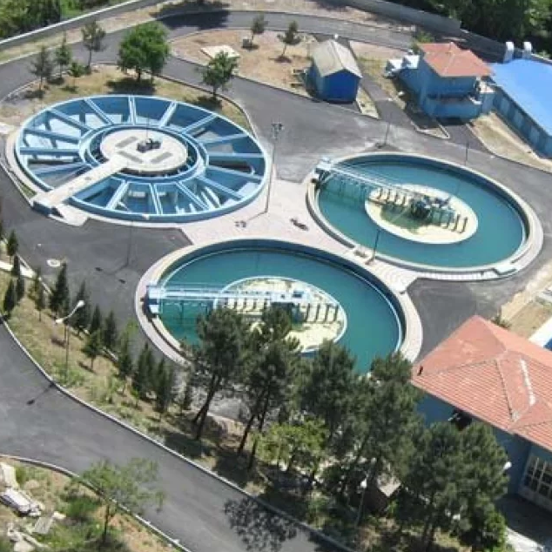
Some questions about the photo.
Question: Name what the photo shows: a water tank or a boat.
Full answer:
Visible in the photo is a water tank.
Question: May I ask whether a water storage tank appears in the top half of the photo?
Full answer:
Yes, I can see a water storage tank in the top half of the photo.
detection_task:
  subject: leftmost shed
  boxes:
[313,37,363,103]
